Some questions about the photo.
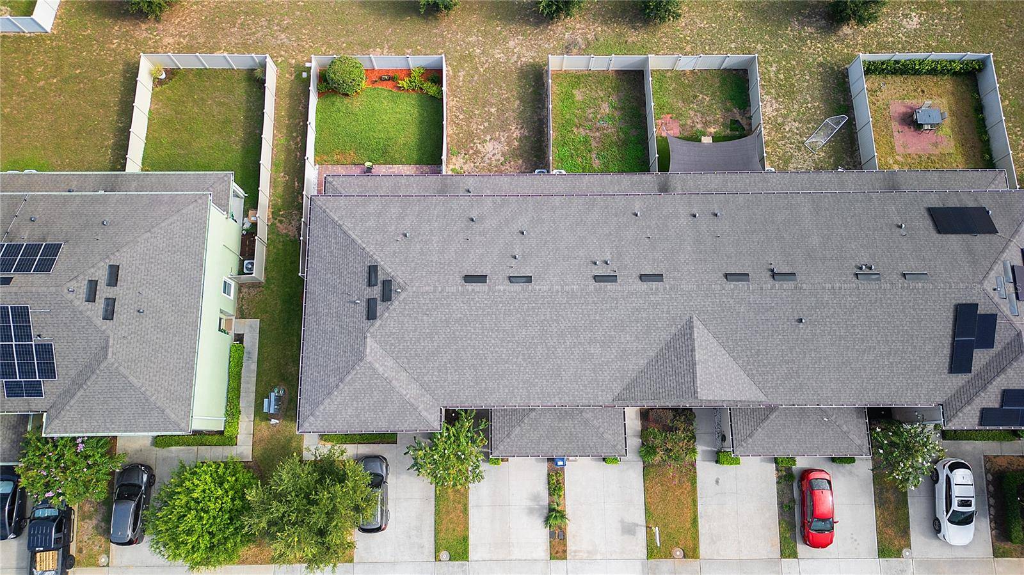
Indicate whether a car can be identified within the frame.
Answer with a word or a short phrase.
Yes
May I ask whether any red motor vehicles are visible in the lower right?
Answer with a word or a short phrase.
Yes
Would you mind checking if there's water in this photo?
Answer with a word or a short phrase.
No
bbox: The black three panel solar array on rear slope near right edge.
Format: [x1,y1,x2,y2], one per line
[935,206,991,233]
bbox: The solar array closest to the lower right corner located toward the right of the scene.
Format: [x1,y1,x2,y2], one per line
[979,390,1024,427]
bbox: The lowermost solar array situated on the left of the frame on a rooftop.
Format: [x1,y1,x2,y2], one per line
[0,306,59,399]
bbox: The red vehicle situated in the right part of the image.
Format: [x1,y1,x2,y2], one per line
[796,471,839,547]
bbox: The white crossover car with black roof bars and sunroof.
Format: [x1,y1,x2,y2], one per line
[928,459,976,544]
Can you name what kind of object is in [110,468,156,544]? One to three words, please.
car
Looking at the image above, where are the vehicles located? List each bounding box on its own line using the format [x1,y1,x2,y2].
[354,457,390,531]
[0,467,28,542]
[110,468,156,544]
[928,459,976,544]
[796,471,839,547]
[25,482,79,575]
